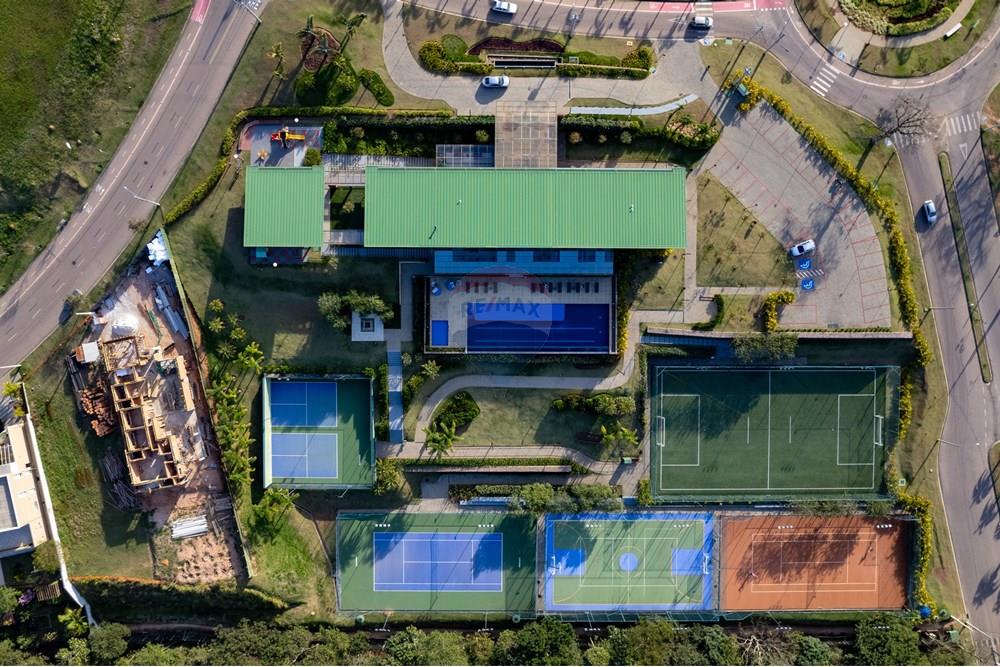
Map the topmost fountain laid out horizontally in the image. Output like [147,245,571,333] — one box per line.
[488,55,562,68]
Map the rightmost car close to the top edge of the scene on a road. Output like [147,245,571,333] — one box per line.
[691,14,717,27]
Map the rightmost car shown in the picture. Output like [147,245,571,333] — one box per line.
[924,197,941,224]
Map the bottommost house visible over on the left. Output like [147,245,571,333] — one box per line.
[0,422,57,559]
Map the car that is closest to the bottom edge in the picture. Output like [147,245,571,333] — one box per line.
[791,240,817,255]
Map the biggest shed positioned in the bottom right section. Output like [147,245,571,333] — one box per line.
[909,617,954,641]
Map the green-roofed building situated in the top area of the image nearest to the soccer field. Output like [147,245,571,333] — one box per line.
[364,166,688,275]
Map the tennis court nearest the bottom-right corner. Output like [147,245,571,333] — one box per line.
[722,516,912,609]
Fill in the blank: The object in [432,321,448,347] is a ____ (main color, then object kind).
blue swimming pool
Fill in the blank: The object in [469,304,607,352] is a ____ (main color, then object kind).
blue swimming pool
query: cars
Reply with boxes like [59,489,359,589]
[492,0,519,12]
[924,197,941,224]
[483,73,508,86]
[791,240,817,255]
[691,14,717,27]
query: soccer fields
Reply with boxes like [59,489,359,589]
[648,366,886,494]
